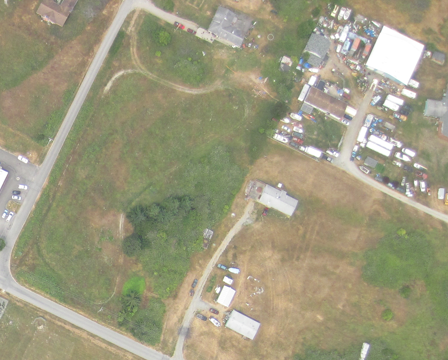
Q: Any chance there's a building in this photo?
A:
Yes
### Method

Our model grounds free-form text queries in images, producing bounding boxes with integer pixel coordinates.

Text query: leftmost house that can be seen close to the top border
[37,0,82,28]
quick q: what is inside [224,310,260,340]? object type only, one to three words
barn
